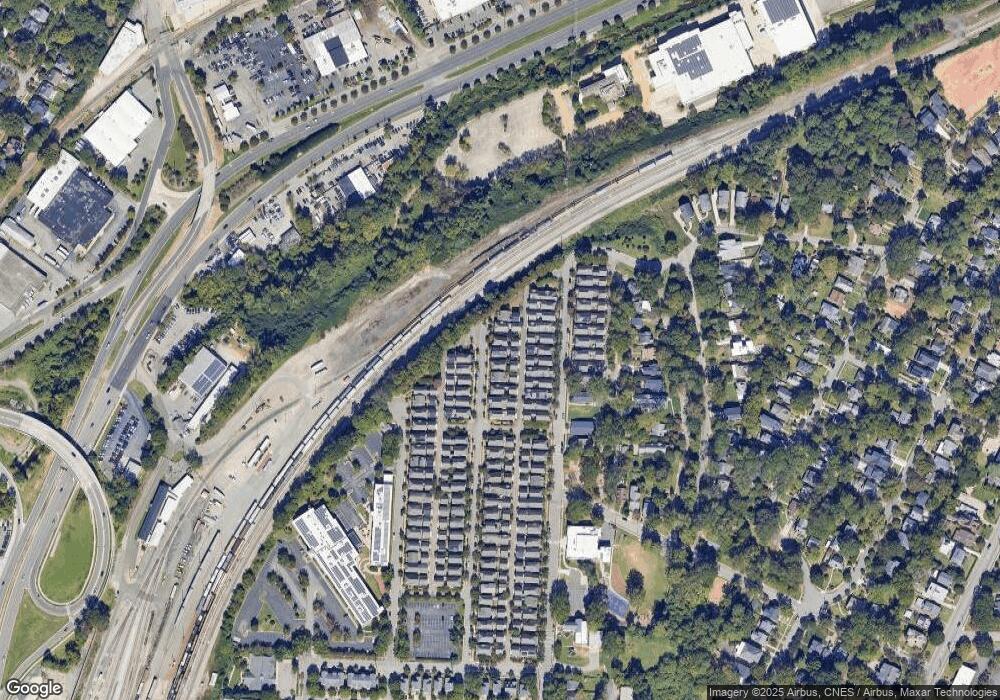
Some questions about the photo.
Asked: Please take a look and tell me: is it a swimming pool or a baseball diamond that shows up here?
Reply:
baseball diamond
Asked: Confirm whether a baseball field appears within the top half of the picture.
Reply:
No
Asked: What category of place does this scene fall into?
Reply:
residential area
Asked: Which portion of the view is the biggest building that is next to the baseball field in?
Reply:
bottom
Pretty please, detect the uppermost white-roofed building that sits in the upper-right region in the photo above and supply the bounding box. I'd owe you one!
[764,0,815,57]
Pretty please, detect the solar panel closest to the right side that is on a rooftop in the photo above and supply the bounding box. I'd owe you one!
[764,0,801,23]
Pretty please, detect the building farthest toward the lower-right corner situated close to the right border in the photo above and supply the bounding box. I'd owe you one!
[942,668,976,700]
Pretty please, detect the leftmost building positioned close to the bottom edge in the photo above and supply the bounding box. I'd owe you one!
[237,656,277,690]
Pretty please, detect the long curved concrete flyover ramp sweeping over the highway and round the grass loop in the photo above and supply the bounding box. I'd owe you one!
[0,406,112,613]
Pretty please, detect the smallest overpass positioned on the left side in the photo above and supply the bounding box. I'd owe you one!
[183,149,218,243]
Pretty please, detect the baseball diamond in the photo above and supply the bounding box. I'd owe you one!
[612,528,667,610]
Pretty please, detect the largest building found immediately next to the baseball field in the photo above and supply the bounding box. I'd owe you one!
[567,526,602,559]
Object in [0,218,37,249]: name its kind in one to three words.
building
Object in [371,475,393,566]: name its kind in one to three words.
building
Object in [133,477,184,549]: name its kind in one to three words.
shed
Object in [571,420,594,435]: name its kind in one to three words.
house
